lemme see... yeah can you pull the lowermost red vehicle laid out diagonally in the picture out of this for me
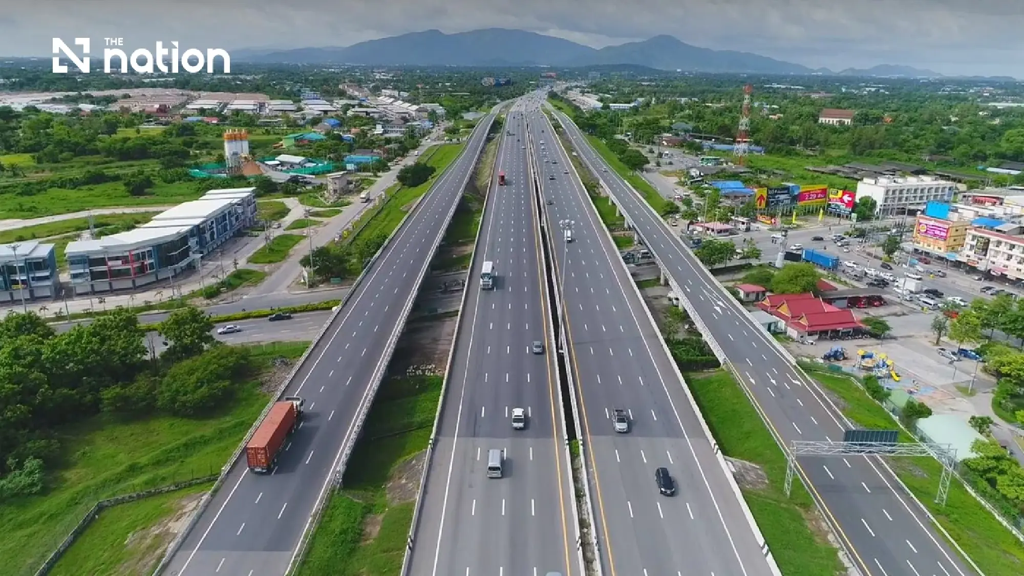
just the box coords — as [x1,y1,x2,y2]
[250,391,305,468]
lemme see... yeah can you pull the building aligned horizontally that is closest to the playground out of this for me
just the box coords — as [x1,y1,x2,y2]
[757,292,880,341]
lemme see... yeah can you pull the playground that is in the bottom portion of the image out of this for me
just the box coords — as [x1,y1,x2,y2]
[856,342,905,378]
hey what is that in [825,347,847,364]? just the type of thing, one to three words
work vehicle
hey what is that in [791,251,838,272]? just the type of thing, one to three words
truck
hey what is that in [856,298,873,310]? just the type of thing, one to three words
vehicle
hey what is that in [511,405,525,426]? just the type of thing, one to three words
vehicle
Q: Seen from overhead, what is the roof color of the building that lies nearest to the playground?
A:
red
